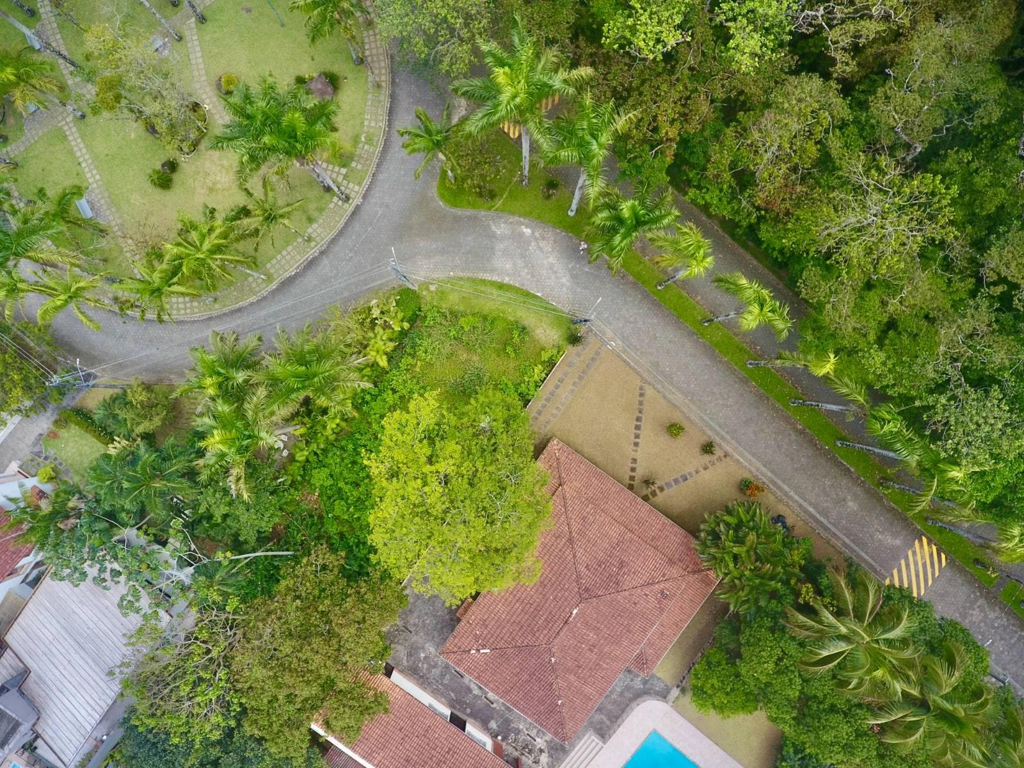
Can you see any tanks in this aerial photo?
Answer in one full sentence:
No, I can't see a single tank in this photo.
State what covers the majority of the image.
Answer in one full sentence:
Most of the picture is covered by trees.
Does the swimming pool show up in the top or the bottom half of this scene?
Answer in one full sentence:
You can find the swimming pool in the bottom half.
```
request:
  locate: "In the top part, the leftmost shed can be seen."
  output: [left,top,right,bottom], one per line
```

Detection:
[297,65,330,101]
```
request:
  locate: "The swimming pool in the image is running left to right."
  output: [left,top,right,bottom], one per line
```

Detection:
[588,700,744,768]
